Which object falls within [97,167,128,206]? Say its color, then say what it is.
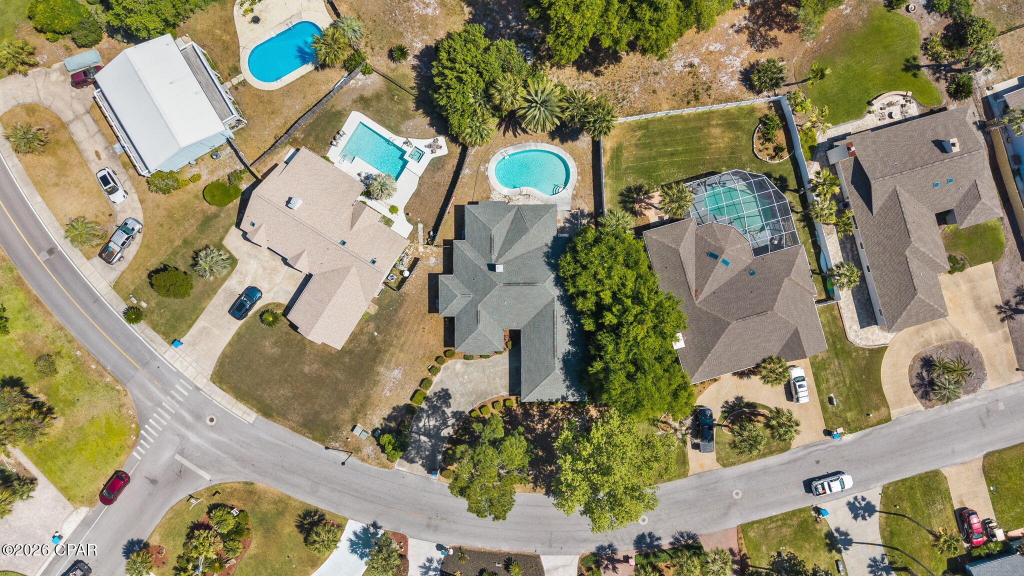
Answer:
white car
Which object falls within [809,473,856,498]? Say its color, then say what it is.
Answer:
white truck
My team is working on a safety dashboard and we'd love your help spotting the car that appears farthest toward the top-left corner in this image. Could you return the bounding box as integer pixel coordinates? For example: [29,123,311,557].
[69,63,105,89]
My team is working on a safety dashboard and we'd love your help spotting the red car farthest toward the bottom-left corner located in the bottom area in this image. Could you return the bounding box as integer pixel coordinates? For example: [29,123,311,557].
[101,468,131,506]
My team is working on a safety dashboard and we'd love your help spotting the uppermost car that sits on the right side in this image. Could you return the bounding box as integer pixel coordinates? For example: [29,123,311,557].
[788,365,811,406]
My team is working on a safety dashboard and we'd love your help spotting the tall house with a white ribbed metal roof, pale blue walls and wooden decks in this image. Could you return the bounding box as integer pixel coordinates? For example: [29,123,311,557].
[89,33,246,177]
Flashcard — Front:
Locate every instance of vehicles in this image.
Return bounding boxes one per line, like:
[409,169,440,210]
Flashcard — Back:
[788,365,811,406]
[959,508,986,548]
[98,219,142,264]
[97,167,128,206]
[228,285,263,322]
[101,468,131,506]
[809,473,856,498]
[69,63,105,89]
[987,520,1012,544]
[69,558,94,576]
[696,405,716,453]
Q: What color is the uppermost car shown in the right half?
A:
white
